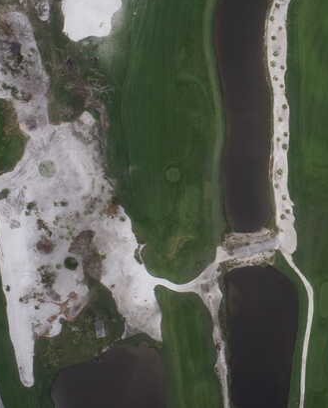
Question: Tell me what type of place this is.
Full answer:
What you see here is a golf course.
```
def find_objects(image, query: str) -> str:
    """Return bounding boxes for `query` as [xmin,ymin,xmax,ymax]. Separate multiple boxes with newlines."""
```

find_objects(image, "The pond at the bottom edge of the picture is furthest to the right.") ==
[226,267,299,408]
